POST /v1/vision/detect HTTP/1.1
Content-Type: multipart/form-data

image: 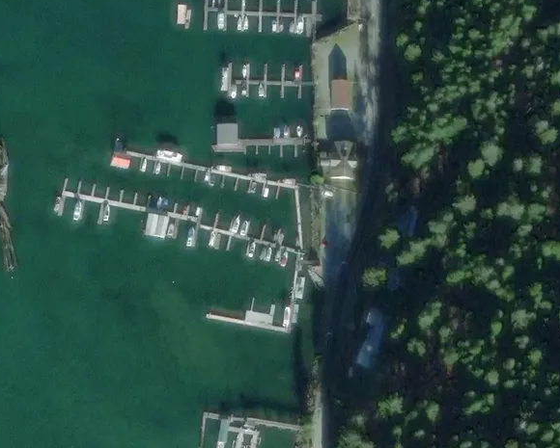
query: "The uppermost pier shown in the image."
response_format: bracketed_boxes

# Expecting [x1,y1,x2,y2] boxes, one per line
[203,0,321,40]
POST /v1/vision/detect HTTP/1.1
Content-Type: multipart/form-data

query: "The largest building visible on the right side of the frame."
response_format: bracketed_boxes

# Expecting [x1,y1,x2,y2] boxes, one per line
[320,139,359,180]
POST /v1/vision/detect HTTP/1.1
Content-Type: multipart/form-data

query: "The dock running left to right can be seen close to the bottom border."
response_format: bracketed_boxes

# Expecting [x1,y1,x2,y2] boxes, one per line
[200,413,298,448]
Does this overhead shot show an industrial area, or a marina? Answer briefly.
marina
